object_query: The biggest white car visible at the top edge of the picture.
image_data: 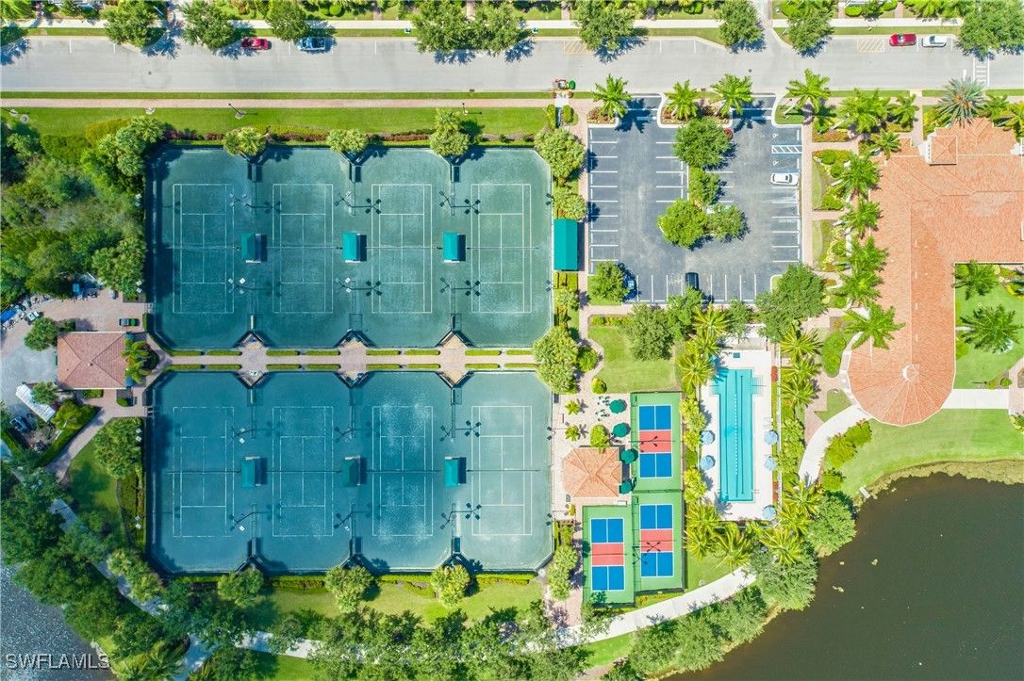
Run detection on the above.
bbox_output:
[921,34,946,48]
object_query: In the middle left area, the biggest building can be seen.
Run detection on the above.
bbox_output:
[57,331,132,389]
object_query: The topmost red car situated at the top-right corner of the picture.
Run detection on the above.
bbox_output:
[888,34,916,47]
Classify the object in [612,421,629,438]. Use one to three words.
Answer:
umbrella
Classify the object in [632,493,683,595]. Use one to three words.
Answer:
sports court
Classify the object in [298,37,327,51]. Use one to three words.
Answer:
vehicle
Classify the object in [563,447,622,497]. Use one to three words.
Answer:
building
